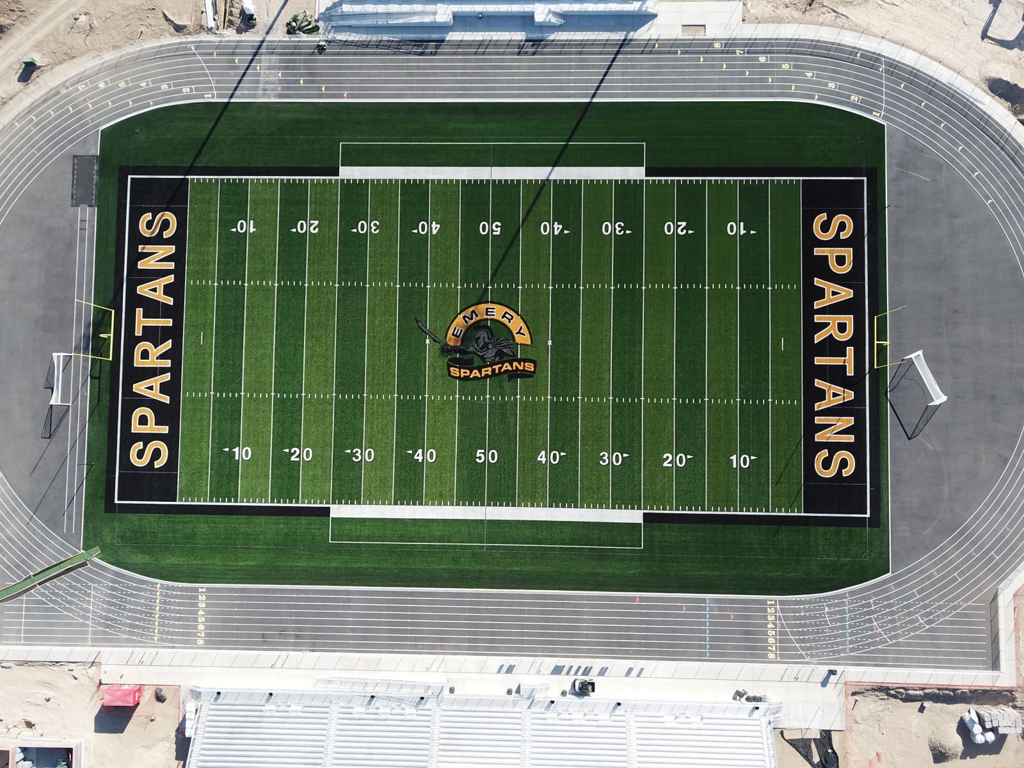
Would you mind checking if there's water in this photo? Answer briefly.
No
